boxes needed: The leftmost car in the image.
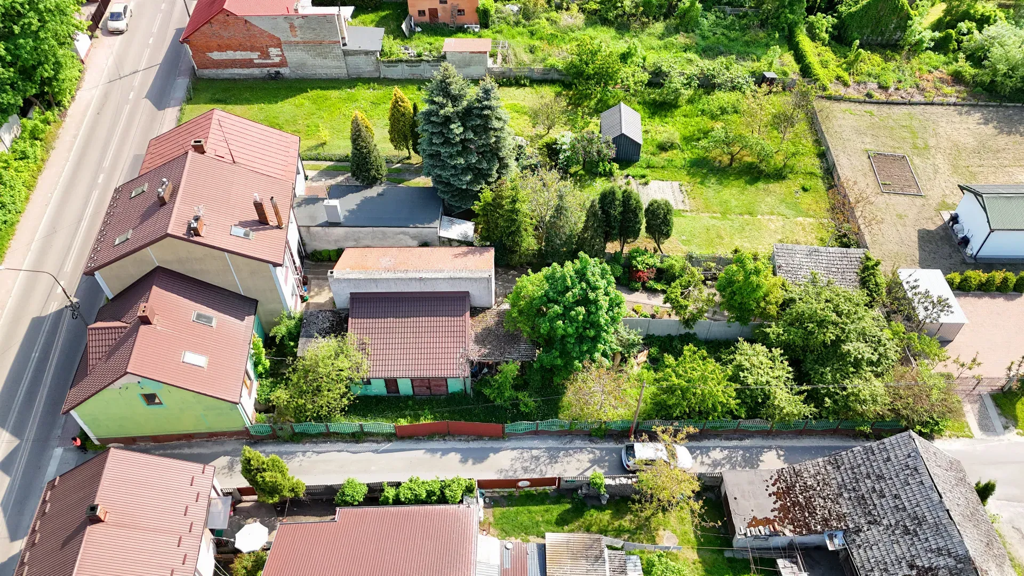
[104,8,128,32]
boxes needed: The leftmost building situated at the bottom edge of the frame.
[13,446,224,576]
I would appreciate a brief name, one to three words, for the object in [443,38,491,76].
shed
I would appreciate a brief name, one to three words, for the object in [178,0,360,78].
house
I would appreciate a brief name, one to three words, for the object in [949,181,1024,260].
house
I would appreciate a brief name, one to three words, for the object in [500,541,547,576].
shed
